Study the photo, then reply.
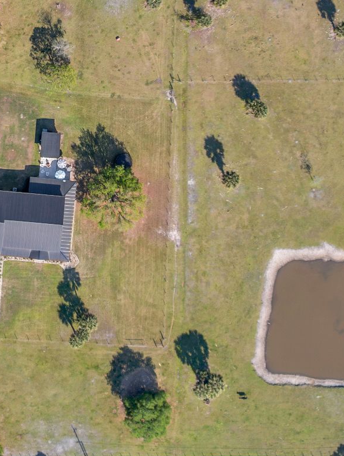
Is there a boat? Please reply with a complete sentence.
No, the frame has no boat in it.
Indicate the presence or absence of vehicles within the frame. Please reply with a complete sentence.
No, there's no vehicle here.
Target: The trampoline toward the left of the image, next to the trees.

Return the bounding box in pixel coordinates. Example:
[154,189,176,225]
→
[115,152,133,169]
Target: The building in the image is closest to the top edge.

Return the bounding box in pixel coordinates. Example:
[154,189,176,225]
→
[40,132,61,158]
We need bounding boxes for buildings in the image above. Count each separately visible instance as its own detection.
[40,132,61,158]
[0,177,77,263]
